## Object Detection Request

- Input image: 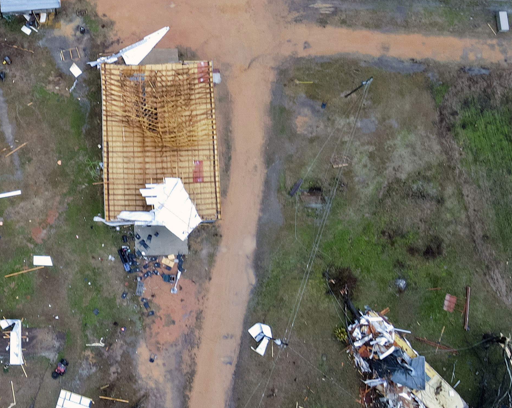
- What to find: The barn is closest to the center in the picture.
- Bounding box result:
[100,61,221,223]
